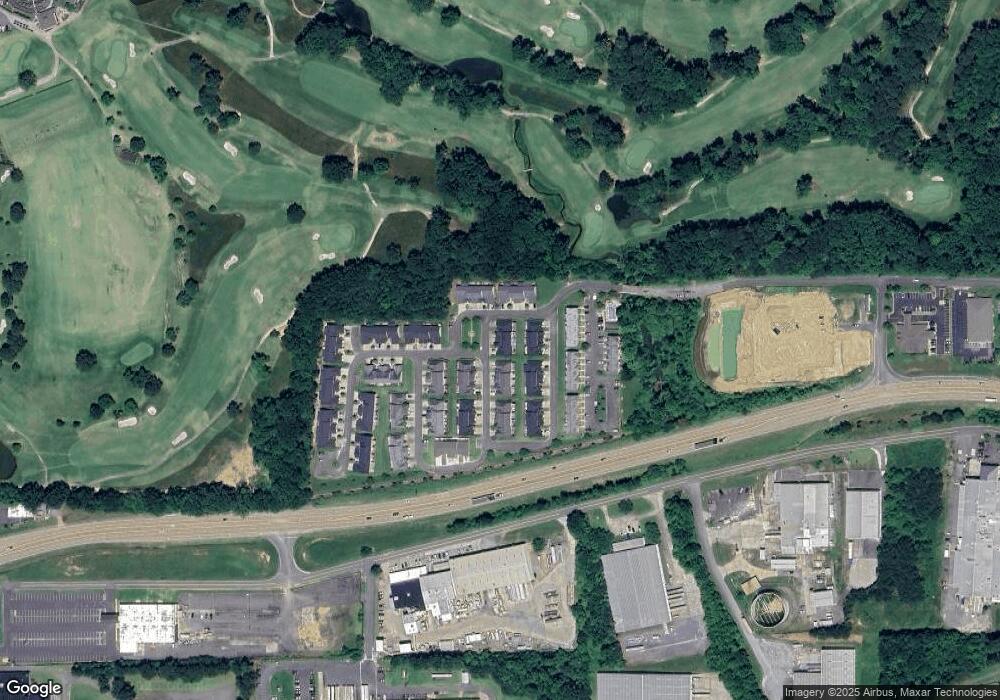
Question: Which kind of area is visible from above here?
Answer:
golf course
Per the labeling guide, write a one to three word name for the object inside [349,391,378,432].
house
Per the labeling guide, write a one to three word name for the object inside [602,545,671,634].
building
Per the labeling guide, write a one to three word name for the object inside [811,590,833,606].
shed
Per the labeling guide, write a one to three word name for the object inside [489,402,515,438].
house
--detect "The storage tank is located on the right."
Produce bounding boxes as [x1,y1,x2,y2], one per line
[752,592,789,629]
